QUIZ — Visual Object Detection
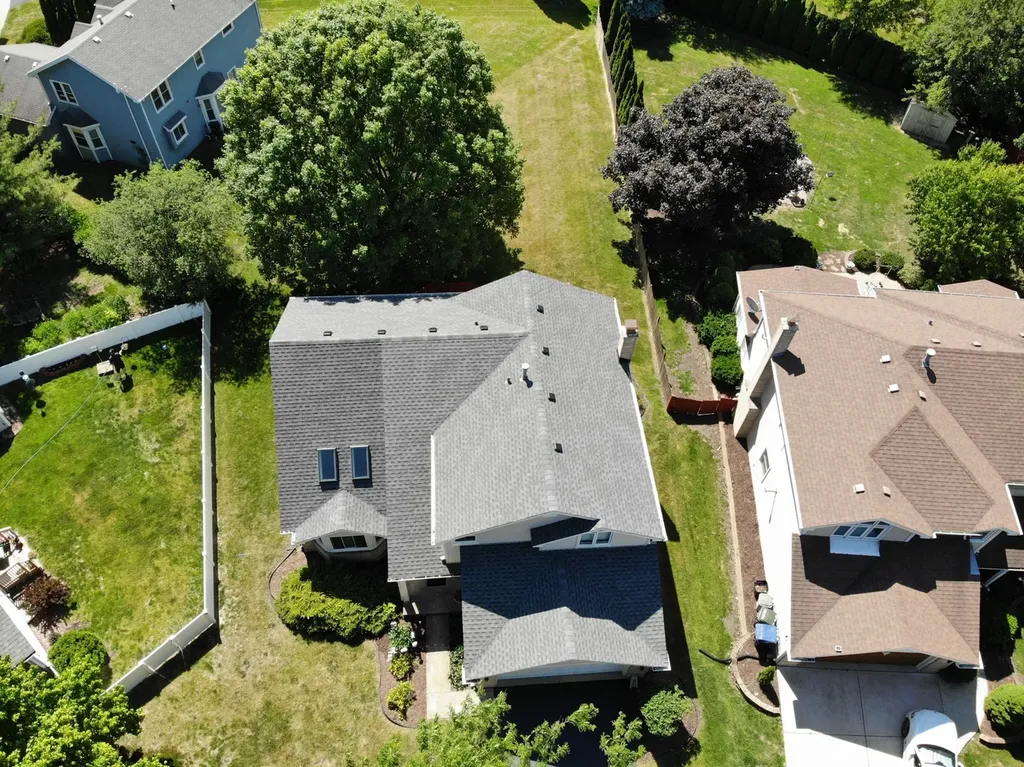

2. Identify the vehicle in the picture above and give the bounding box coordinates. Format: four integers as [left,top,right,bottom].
[901,713,969,767]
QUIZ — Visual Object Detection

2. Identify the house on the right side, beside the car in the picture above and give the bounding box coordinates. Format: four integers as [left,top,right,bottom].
[729,265,1024,677]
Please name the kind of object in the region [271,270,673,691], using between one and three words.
house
